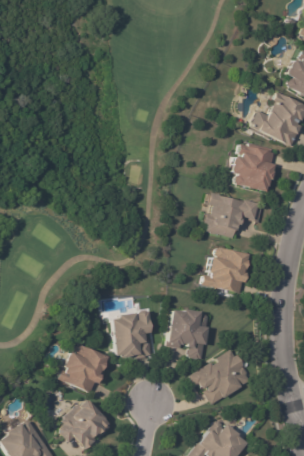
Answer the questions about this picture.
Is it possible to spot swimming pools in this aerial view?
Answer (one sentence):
Yes, the image includes a swimming pool.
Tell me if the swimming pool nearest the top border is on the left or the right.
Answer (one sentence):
It is on the right.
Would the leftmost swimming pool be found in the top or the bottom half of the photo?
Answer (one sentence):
The leftmost swimming pool is in the bottom half of the image.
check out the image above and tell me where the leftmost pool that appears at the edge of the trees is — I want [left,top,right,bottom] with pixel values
[0,396,30,433]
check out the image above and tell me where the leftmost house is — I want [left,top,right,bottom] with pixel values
[0,420,54,456]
